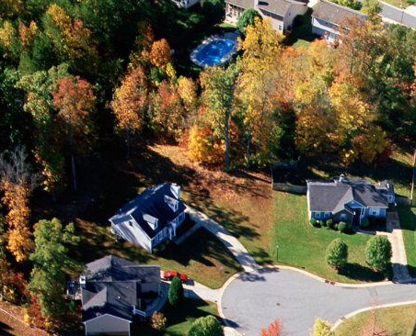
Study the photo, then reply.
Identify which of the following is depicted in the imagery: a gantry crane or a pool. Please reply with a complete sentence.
I can see a pool in this picture.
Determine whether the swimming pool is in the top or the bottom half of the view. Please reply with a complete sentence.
Seen from above, the swimming pool lies in the top half of the view.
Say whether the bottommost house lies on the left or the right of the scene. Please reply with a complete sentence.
The bottommost house is on the left side of the image.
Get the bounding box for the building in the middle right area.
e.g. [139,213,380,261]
[303,173,394,225]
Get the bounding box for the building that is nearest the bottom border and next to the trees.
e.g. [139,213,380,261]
[67,255,161,335]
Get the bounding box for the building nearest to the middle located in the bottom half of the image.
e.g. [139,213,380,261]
[111,182,185,248]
